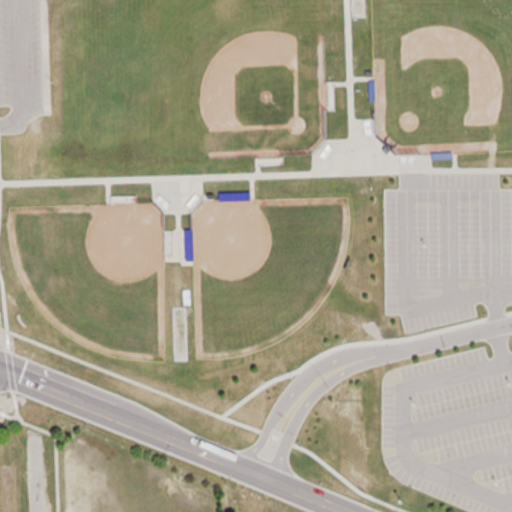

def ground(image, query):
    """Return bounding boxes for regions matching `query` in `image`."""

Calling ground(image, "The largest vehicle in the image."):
[190,439,236,462]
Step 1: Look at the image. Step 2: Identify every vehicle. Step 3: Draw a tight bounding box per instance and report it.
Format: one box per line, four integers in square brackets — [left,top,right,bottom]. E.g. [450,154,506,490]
[314,488,324,496]
[26,380,38,389]
[190,439,236,462]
